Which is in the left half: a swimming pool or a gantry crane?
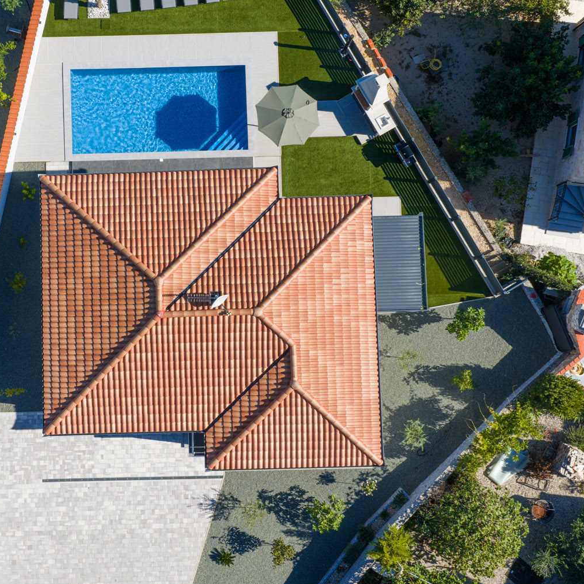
swimming pool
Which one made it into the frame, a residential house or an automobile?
residential house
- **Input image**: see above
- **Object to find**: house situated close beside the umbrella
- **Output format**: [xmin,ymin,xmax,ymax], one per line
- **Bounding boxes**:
[38,165,386,473]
